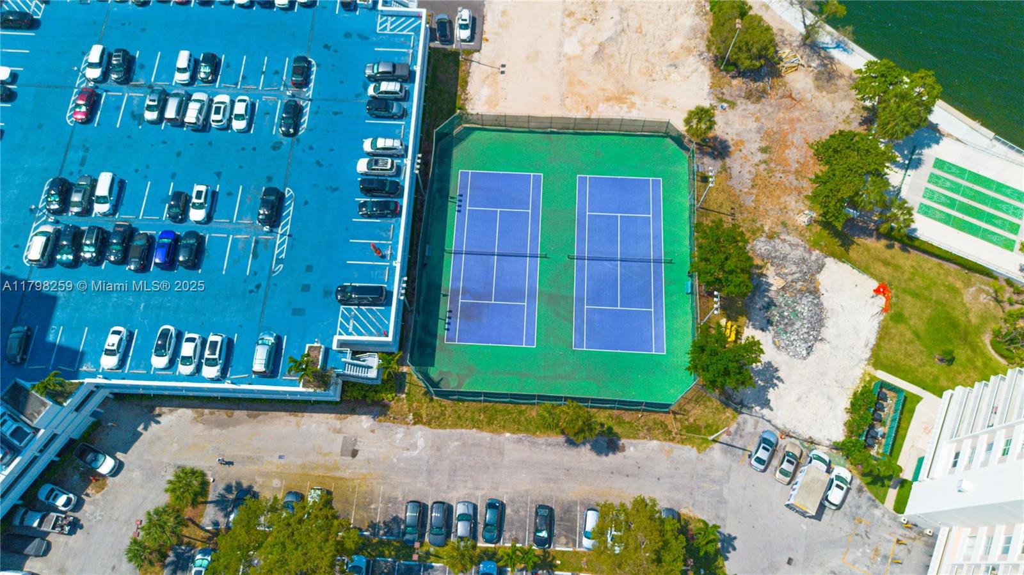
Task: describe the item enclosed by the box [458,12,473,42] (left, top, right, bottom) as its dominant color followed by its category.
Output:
white car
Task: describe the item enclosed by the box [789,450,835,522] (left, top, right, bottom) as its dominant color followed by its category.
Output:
white truck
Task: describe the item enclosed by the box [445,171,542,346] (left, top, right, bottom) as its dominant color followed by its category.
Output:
blue tennis court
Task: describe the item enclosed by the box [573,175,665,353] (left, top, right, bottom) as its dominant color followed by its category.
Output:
blue tennis court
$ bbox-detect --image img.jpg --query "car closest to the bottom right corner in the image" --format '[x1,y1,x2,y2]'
[823,465,853,514]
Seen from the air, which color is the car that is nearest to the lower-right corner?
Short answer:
white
